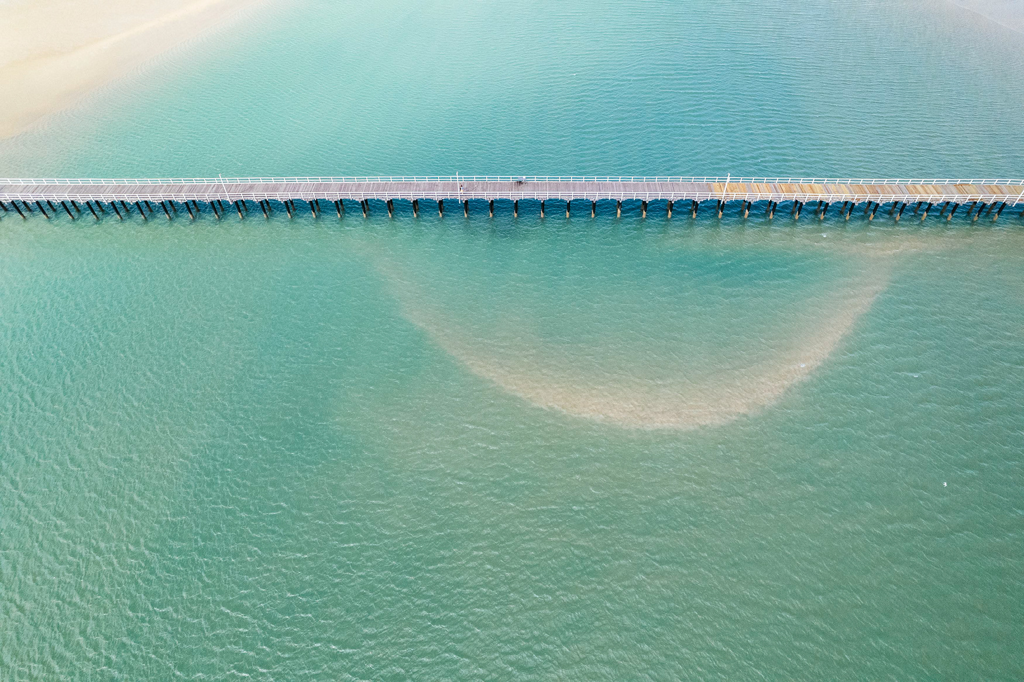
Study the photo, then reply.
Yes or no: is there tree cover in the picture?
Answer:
No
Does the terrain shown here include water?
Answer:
Yes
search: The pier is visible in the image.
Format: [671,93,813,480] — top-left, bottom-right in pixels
[0,176,1024,220]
